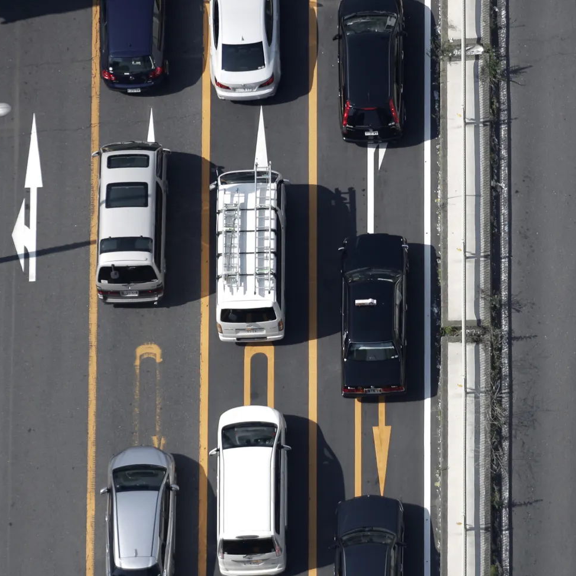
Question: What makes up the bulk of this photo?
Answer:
paved ground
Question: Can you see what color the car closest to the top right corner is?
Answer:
black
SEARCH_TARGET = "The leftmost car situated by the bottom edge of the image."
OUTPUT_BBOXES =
[100,447,182,576]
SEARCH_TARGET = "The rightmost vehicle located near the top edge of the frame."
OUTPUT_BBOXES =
[330,0,410,143]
